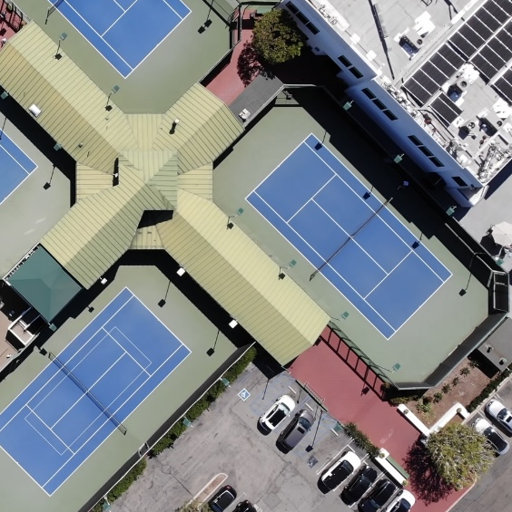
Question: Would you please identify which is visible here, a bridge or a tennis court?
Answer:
tennis court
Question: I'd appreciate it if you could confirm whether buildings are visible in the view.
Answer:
Yes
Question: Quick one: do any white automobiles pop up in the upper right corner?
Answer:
No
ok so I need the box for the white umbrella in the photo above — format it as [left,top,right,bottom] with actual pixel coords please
[489,222,512,246]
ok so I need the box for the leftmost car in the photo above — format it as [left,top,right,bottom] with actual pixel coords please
[209,482,238,512]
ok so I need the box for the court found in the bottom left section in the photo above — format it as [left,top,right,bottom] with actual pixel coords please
[0,247,249,512]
